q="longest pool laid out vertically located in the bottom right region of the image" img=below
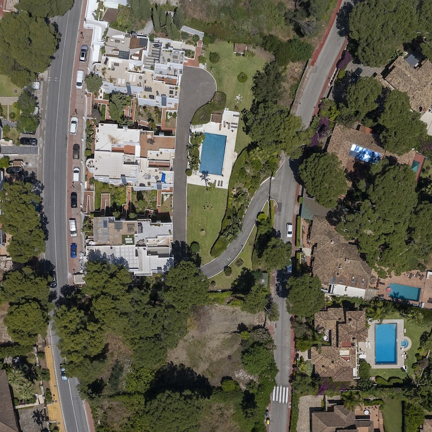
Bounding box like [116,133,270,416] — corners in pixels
[374,321,398,379]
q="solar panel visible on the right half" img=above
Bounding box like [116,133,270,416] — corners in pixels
[350,144,382,161]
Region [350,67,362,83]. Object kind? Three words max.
vehicle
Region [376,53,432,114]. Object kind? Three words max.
house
